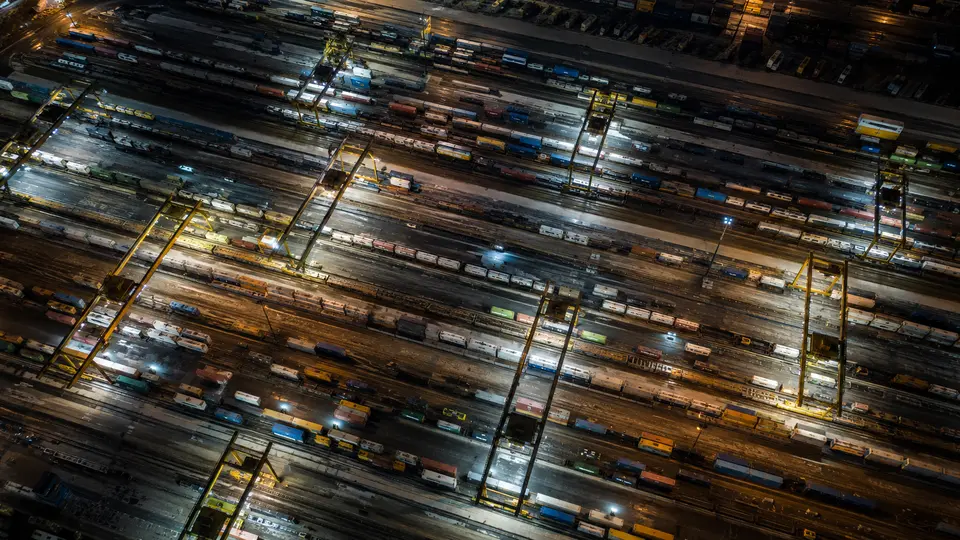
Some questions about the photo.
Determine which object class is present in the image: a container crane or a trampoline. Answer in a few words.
container crane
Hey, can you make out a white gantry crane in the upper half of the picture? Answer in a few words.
No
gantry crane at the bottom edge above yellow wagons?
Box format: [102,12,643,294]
[176,431,283,540]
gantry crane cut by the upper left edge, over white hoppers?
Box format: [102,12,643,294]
[0,76,112,199]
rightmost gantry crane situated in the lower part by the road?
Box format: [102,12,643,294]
[775,250,849,420]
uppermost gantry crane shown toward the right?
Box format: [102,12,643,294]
[562,88,620,195]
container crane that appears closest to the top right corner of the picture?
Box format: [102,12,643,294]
[854,160,908,266]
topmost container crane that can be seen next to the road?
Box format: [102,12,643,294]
[292,33,360,131]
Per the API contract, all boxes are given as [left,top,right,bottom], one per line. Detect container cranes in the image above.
[271,131,376,276]
[854,160,908,266]
[0,76,112,199]
[36,193,218,391]
[176,431,283,540]
[474,286,582,516]
[775,250,849,420]
[562,88,620,195]
[292,33,360,131]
